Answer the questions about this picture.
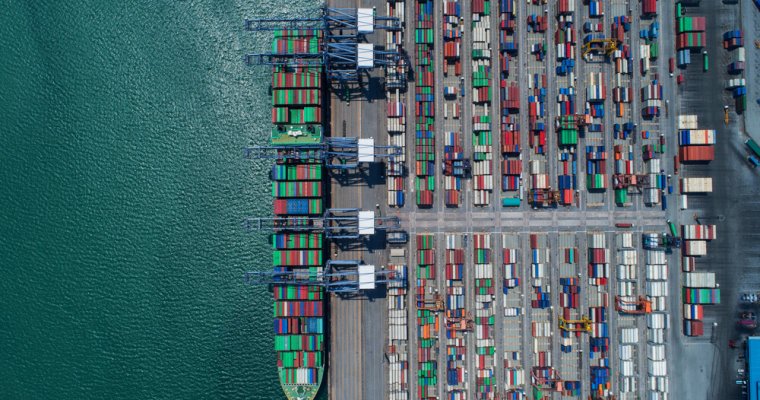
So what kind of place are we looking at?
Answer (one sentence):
This looks like a port.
